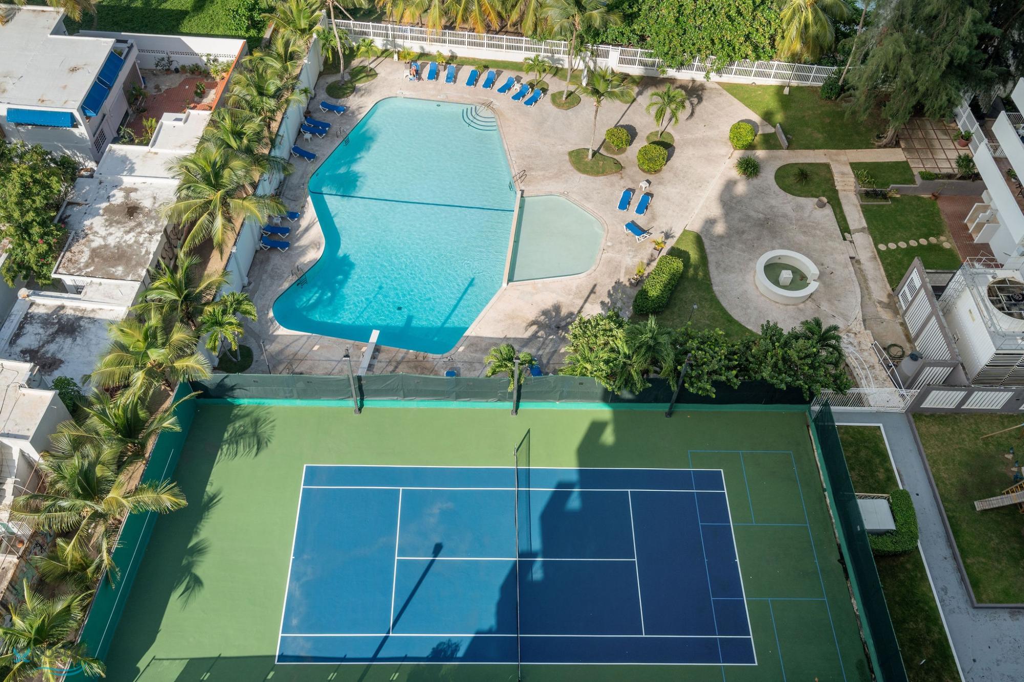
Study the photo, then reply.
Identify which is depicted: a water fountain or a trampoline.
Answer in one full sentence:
It is a water fountain that can be seen here.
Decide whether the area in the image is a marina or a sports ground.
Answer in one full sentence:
It's a sports ground.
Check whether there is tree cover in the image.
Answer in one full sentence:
Yes, there's tree cover in this view.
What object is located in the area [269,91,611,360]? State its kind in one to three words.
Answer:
swimming pool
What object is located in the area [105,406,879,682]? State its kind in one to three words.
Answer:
tennis court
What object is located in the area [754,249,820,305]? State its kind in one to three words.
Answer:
fountain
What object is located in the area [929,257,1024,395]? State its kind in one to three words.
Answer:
cooling tower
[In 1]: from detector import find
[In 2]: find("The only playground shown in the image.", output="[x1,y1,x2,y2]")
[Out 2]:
[973,422,1024,515]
